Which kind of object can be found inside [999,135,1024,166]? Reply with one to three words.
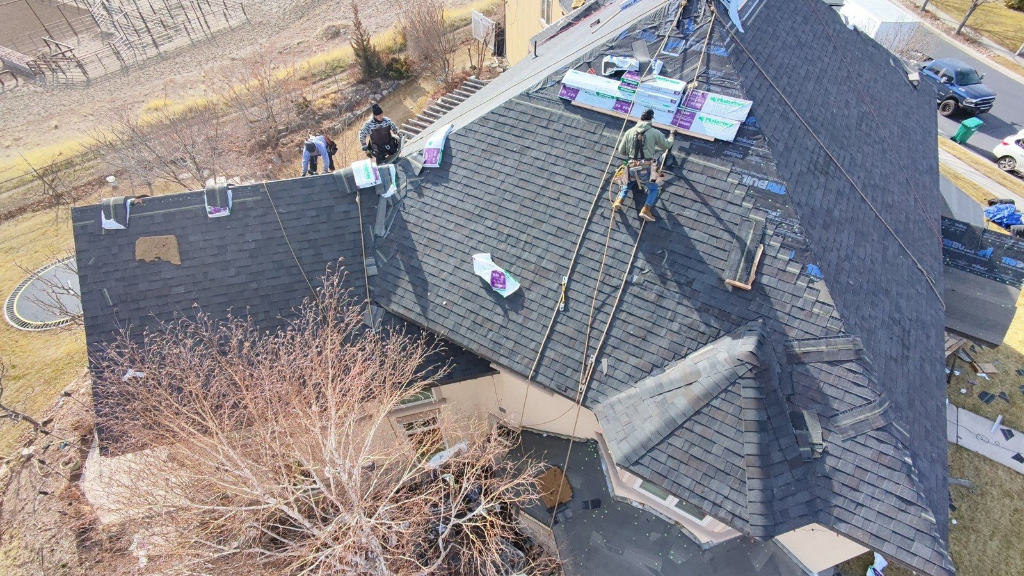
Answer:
car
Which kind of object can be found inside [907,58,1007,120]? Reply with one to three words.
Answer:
truck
